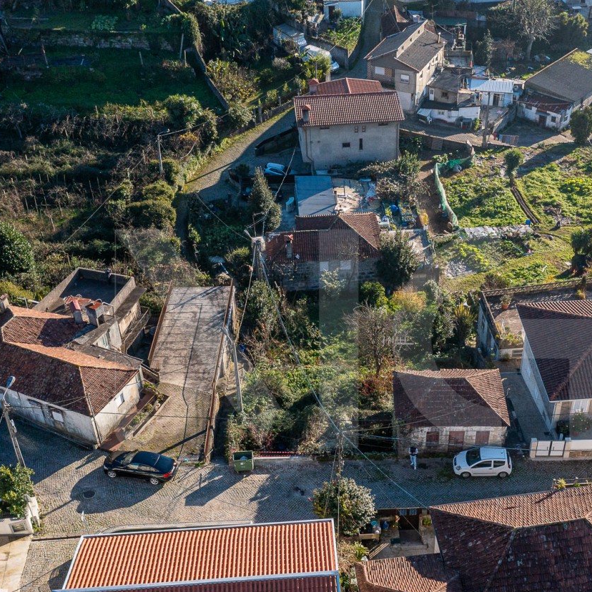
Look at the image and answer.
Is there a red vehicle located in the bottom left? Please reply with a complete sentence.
No, in the bottom left there is no red vehicle.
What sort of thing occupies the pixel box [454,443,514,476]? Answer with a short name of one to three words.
car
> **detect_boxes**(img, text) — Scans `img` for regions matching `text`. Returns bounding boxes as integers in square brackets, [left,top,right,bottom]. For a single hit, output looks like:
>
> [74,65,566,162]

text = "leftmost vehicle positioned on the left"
[98,443,179,482]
